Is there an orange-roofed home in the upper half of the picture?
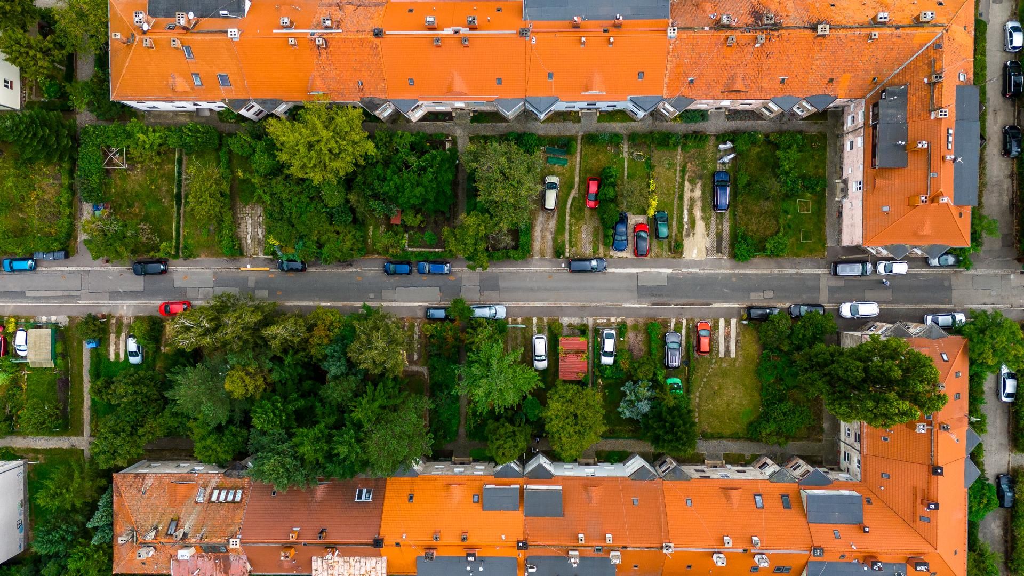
Yes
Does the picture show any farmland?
No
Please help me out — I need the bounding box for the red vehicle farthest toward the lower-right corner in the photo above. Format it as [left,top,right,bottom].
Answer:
[696,320,712,355]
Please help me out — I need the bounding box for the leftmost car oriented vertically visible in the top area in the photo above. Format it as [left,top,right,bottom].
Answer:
[543,175,559,211]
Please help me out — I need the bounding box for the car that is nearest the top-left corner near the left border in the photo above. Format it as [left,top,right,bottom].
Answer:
[4,257,39,273]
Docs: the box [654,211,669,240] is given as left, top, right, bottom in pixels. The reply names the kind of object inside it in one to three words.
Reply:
car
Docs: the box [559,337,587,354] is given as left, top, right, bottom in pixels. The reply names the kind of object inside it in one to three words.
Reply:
shed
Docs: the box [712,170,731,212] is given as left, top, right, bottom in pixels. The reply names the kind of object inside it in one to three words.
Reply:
car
